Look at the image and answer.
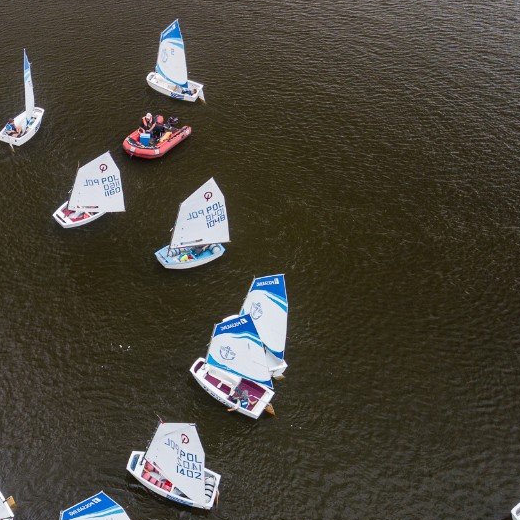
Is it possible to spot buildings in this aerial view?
No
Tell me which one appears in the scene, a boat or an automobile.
boat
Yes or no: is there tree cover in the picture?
No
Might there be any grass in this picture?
No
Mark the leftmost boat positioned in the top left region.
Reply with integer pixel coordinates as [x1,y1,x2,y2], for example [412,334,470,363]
[0,48,45,151]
